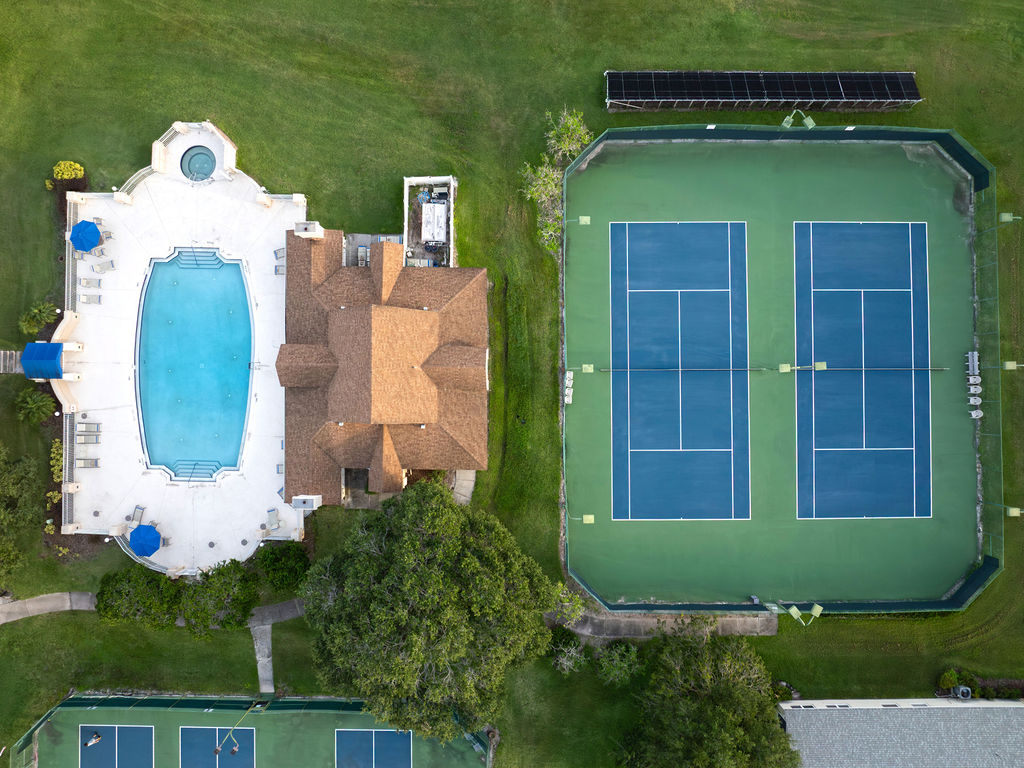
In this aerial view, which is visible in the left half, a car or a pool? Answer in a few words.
pool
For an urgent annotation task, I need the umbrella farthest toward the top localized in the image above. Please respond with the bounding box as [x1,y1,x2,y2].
[68,219,106,253]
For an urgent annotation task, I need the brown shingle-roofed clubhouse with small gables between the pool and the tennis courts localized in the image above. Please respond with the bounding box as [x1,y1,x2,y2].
[276,221,489,509]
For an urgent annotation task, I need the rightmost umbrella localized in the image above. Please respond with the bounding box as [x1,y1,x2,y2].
[129,524,164,556]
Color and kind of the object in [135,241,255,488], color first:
blue swimming pool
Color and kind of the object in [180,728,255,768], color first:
blue sports court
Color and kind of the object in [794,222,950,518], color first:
blue tennis court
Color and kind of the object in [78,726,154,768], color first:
blue sports court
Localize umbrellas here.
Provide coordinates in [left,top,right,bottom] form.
[129,524,164,556]
[68,219,106,253]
